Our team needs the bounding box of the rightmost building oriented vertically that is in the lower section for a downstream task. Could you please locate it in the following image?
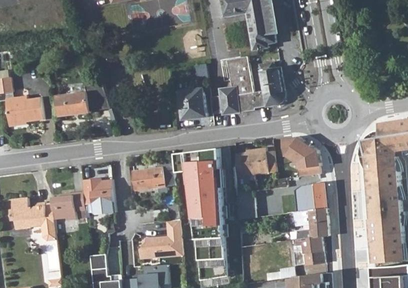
[360,133,408,264]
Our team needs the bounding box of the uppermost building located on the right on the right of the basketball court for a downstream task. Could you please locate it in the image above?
[220,0,282,49]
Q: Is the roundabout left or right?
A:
right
